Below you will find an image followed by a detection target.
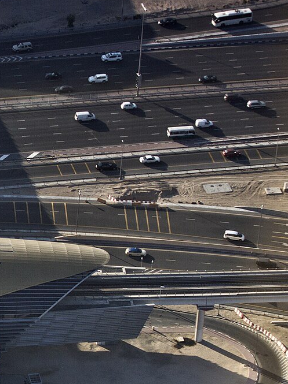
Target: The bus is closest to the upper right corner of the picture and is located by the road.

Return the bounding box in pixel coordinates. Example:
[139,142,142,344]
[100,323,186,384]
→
[208,4,256,25]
